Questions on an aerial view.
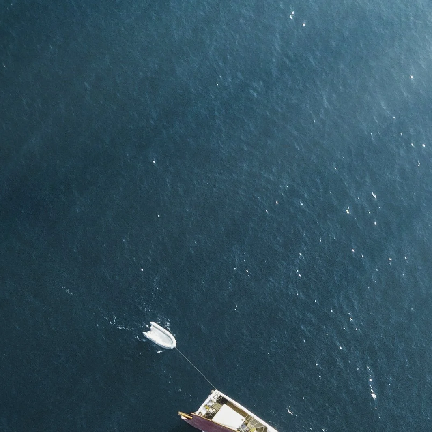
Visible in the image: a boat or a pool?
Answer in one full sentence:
The image shows a boat.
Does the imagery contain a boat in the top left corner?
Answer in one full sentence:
No, there's no boat to be seen in the top left corner.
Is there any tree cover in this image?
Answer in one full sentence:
No, tree cover can't be seen anywhere here.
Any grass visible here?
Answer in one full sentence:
No, no grass is visible.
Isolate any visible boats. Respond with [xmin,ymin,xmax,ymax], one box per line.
[144,322,176,349]
[175,388,281,432]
